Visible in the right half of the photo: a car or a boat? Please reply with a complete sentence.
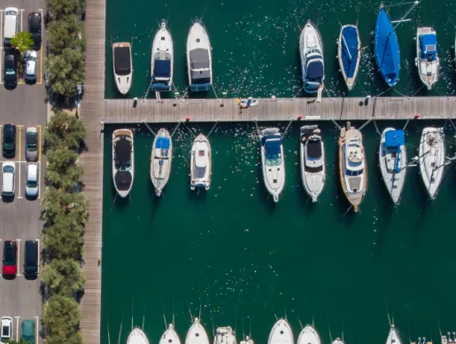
You can see a boat in the right half of the photo.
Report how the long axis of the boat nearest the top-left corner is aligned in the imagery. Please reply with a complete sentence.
The boat nearest the top-left corner runs up and down in the image.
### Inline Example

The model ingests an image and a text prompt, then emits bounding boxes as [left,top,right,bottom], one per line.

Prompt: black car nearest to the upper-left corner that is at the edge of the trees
[28,12,43,51]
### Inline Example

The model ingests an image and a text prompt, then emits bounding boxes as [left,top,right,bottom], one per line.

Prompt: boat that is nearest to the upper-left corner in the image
[111,33,134,97]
